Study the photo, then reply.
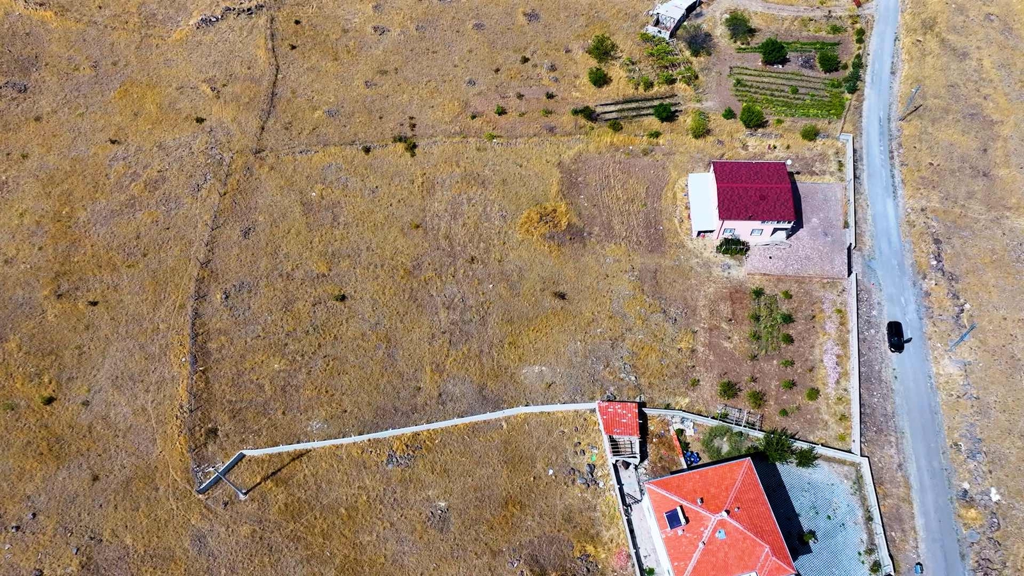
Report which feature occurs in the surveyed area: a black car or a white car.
black car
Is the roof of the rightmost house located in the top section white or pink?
pink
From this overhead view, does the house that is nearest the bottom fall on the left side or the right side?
right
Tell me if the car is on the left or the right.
right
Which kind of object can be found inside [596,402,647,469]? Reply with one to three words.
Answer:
shed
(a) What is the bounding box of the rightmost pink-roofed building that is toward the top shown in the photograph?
[708,160,799,251]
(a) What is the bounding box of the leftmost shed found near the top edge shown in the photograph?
[642,0,698,47]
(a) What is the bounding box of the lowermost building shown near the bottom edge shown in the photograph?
[644,456,803,576]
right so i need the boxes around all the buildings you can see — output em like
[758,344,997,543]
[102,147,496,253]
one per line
[642,0,698,47]
[708,160,799,251]
[644,456,803,576]
[596,402,647,469]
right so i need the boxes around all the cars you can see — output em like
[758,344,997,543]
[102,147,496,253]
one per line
[884,322,911,355]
